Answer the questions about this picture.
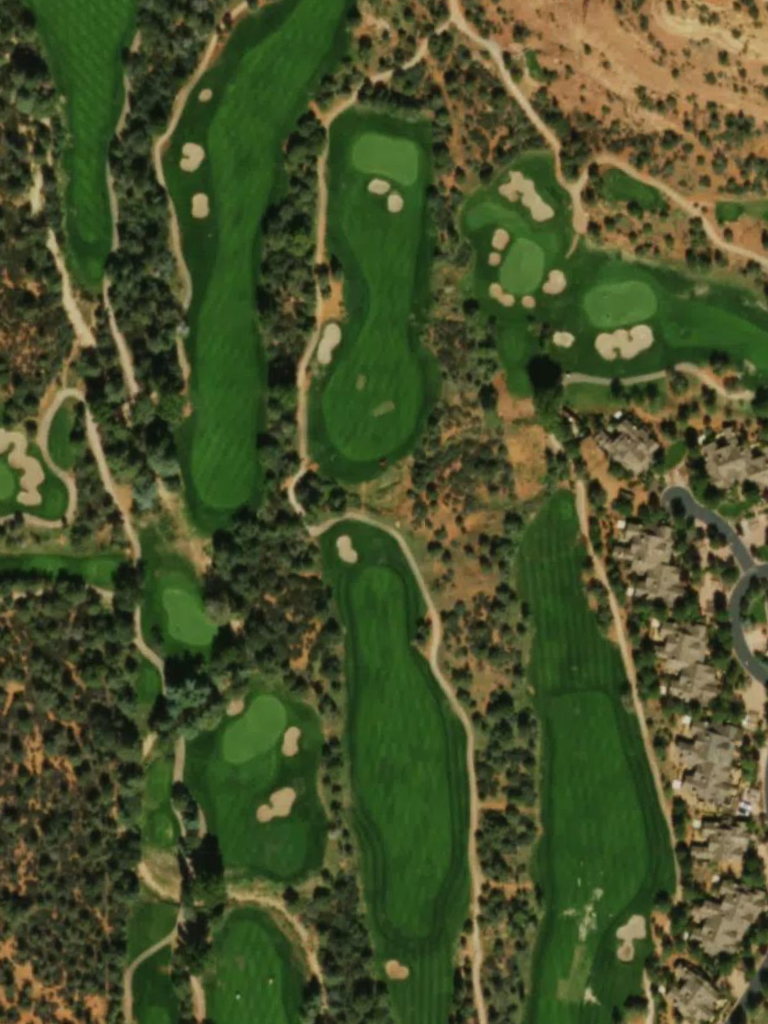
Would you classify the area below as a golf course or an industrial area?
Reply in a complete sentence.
The picture captures a golf course.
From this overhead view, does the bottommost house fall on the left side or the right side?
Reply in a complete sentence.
The bottommost house sits on the right side.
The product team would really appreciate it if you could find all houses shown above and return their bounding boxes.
[697,882,768,960]
[666,965,723,1024]
[690,823,754,860]
[654,623,721,703]
[699,424,768,489]
[612,523,690,607]
[592,418,663,478]
[678,723,740,806]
